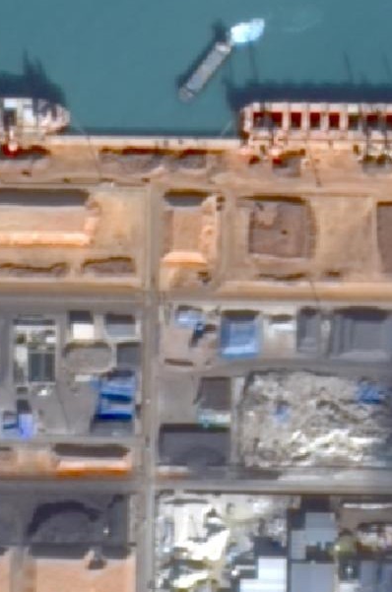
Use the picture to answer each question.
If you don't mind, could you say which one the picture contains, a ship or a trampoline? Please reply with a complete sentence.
I can see a ship in this picture.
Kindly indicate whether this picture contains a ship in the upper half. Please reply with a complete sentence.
Yes, you'll find a ship in the upper half.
